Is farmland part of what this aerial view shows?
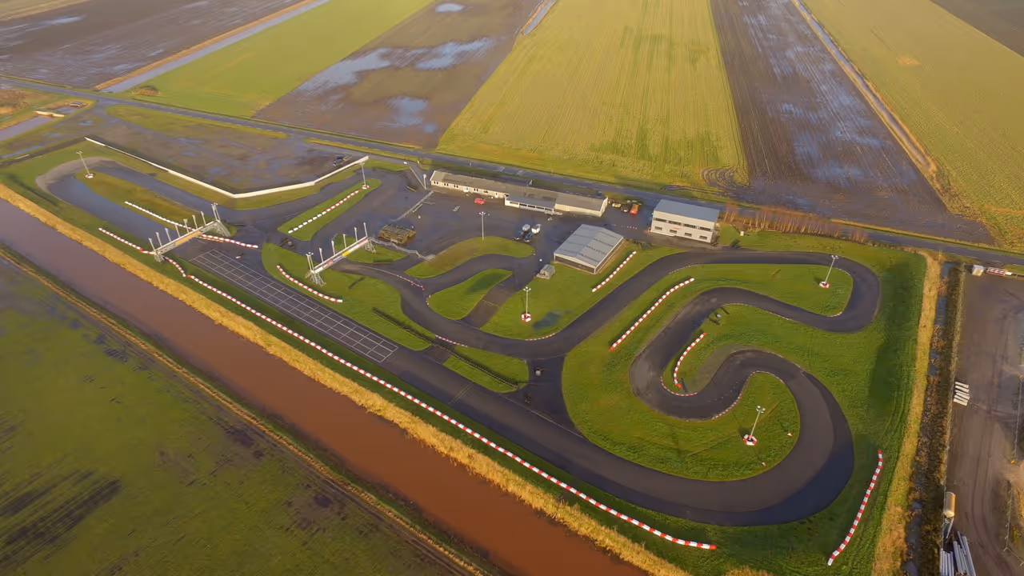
Yes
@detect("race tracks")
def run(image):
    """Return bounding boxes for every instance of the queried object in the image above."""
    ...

[49,163,880,526]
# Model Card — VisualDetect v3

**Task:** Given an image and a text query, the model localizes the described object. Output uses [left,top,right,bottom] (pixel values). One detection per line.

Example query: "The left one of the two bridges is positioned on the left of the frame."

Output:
[151,207,232,265]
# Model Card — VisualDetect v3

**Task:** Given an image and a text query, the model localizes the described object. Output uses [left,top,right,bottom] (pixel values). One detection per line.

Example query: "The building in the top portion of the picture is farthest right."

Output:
[652,193,721,243]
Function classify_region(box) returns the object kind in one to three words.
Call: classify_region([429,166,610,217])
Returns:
house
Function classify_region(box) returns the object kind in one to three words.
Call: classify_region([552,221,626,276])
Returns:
building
